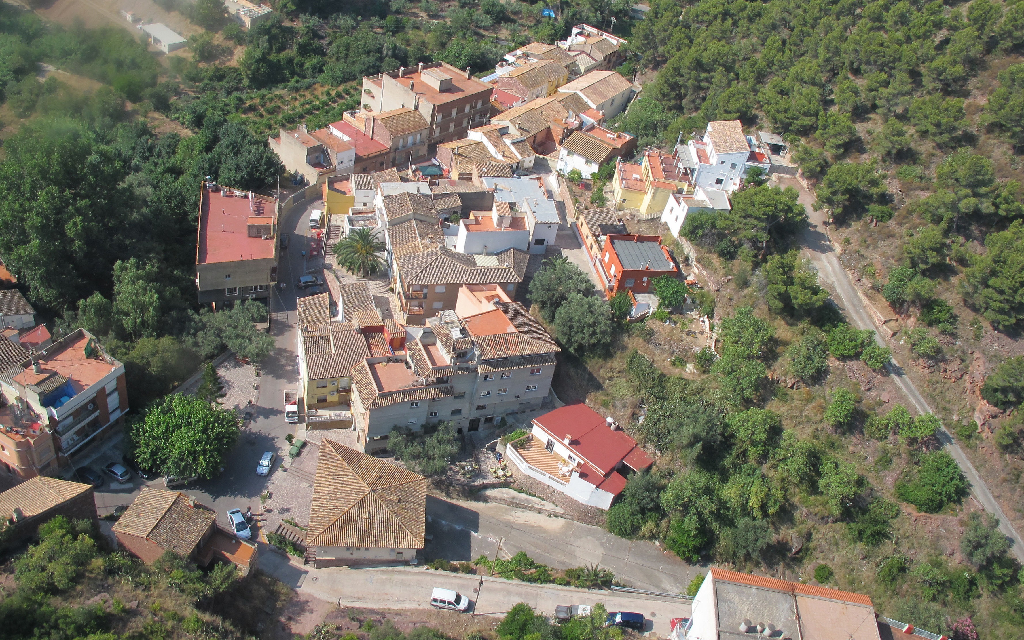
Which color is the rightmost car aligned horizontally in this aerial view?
blue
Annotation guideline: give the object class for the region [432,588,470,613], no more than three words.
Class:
vehicle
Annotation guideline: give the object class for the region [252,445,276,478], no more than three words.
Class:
car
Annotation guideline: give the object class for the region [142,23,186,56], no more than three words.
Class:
shed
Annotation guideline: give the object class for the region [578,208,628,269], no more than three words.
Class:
house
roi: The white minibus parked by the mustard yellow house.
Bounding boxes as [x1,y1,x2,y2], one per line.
[309,205,325,226]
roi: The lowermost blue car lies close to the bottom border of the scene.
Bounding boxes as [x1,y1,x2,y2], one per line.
[607,609,647,630]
